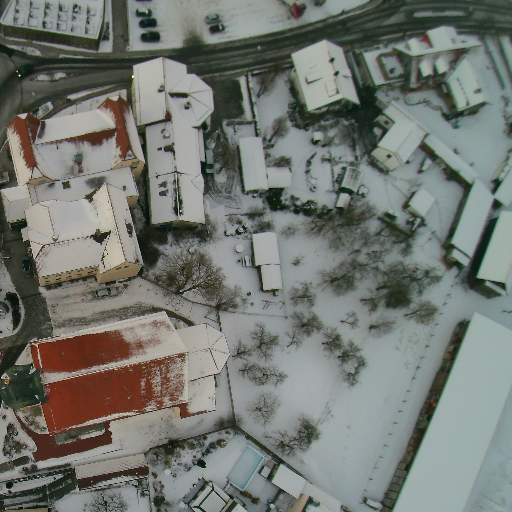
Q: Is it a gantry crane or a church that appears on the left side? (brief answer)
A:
church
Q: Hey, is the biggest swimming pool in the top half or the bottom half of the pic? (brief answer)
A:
bottom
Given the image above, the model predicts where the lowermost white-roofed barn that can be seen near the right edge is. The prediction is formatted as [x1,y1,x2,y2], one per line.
[388,313,512,512]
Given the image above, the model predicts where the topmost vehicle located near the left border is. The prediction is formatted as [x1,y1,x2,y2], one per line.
[15,63,36,77]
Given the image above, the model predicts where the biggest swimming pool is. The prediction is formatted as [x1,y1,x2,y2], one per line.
[227,445,270,489]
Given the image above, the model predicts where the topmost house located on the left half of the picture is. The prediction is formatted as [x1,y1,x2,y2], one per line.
[133,57,214,137]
